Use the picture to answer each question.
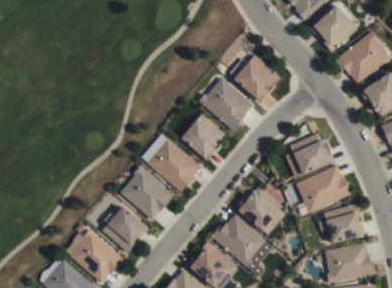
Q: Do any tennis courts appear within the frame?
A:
No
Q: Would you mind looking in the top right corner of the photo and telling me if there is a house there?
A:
Yes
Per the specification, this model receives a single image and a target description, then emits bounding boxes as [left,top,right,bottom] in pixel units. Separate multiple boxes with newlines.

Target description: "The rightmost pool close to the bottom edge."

[304,259,323,280]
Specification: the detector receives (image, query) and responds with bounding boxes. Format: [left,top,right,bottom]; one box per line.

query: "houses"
[382,122,392,152]
[338,32,392,83]
[188,244,238,288]
[142,134,202,192]
[362,72,392,114]
[311,0,360,49]
[120,168,172,220]
[104,208,148,254]
[324,204,366,243]
[234,54,281,102]
[214,214,272,274]
[240,182,286,235]
[288,0,327,20]
[324,243,375,282]
[296,164,350,212]
[181,114,226,159]
[167,268,205,288]
[66,230,122,284]
[290,134,334,174]
[200,78,255,130]
[40,260,96,288]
